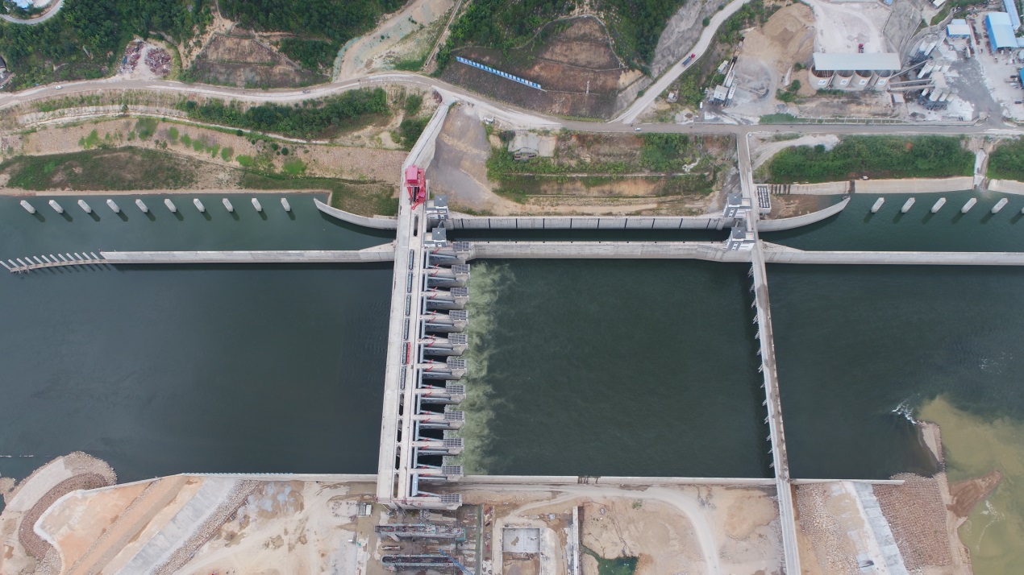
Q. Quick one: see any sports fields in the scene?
No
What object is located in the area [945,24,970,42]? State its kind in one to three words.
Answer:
building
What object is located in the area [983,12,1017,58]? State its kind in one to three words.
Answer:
building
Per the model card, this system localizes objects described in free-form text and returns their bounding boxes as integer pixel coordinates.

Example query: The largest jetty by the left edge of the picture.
[2,249,108,270]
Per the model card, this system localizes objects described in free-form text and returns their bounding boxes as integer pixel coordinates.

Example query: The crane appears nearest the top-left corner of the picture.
[403,165,428,211]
